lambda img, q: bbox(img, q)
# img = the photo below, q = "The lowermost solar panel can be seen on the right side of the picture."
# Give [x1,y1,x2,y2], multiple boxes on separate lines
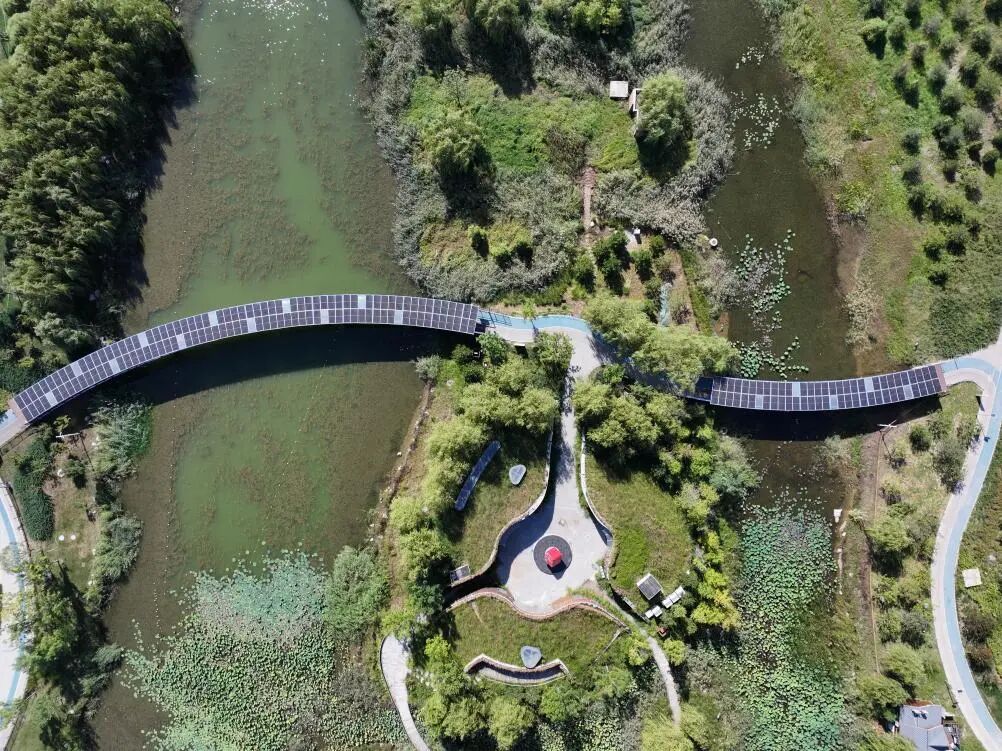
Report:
[638,575,660,597]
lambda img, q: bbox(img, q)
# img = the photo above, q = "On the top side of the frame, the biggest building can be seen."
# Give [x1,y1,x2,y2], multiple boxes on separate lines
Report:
[607,81,628,105]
